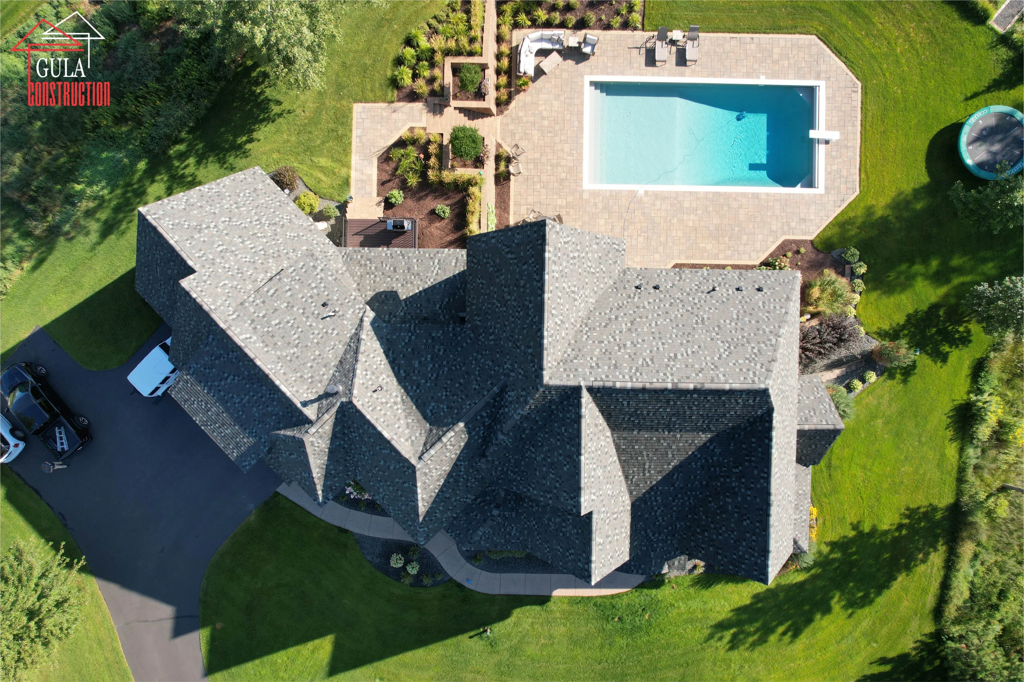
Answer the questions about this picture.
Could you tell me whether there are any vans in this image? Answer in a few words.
Yes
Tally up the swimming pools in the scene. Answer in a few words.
1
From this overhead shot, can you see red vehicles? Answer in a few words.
No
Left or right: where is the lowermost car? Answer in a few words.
left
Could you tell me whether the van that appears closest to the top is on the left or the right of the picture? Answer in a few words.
left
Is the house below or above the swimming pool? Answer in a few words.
below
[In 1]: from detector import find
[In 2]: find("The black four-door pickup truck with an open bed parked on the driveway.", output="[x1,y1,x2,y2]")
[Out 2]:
[0,354,96,460]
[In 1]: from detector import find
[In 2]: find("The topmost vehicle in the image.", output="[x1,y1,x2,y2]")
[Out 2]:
[121,327,181,402]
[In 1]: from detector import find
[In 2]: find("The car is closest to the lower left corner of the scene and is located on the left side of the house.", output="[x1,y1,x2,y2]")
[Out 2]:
[0,412,29,469]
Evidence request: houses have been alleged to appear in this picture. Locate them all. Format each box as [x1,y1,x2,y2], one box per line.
[135,166,844,586]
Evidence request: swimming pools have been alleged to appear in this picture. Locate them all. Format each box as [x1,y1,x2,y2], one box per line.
[583,69,826,199]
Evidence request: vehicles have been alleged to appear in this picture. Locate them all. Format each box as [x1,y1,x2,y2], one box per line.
[0,412,29,469]
[0,354,96,460]
[121,327,181,402]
